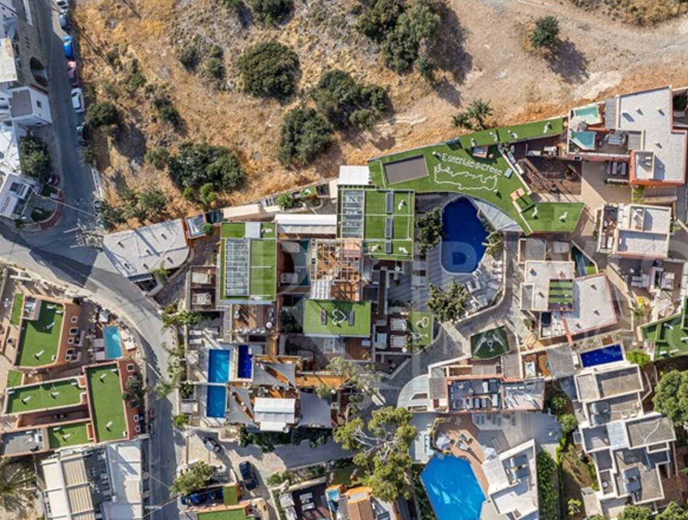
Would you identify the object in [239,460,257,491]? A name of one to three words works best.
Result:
car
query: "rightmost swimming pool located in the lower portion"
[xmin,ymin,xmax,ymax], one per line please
[578,340,628,369]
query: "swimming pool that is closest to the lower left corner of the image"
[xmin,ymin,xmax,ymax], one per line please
[102,324,124,361]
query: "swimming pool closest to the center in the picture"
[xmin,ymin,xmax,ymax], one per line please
[290,239,311,289]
